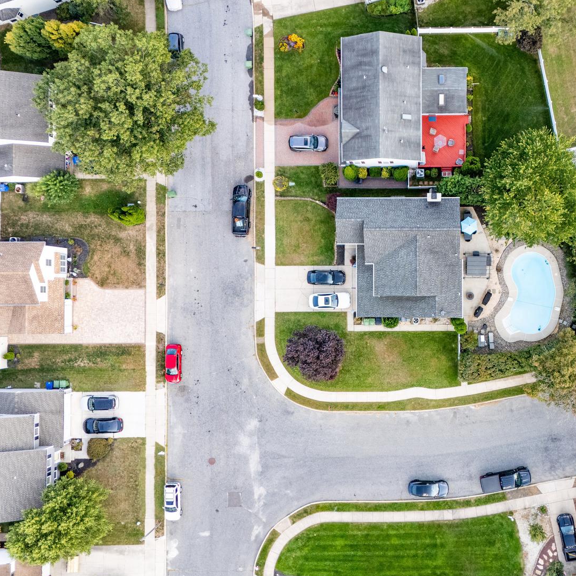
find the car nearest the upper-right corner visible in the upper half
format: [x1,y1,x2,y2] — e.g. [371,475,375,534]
[288,134,329,152]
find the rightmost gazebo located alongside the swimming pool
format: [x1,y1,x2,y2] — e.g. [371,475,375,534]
[462,252,492,281]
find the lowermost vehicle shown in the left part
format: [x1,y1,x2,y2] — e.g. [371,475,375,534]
[162,481,183,520]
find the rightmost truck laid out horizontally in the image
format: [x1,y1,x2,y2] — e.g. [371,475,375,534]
[479,467,532,492]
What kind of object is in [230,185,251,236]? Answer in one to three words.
truck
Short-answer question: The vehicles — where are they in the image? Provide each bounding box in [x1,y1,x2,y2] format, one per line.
[308,291,350,310]
[163,344,183,383]
[288,134,329,152]
[166,0,184,13]
[84,394,121,413]
[306,268,346,287]
[166,31,186,69]
[408,479,448,499]
[479,467,532,492]
[557,512,576,563]
[162,481,183,520]
[84,416,125,436]
[230,185,251,236]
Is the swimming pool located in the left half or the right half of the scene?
right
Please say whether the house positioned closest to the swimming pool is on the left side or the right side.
right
